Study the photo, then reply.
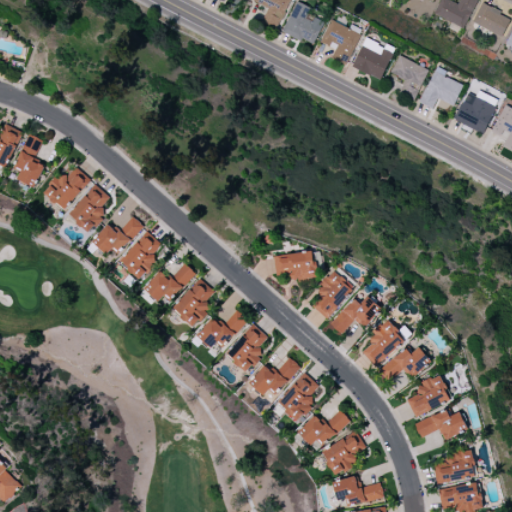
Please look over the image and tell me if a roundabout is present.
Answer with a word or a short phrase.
No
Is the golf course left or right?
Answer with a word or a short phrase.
left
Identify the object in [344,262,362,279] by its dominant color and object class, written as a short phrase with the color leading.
blue swimming pool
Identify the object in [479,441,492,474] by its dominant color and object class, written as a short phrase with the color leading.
blue swimming pool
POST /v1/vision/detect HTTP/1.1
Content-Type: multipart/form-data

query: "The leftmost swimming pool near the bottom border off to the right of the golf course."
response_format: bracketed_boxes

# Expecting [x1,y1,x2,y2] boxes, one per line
[320,485,332,510]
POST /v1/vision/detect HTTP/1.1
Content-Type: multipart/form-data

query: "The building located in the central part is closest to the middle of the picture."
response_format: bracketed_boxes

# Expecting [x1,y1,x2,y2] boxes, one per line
[275,252,318,280]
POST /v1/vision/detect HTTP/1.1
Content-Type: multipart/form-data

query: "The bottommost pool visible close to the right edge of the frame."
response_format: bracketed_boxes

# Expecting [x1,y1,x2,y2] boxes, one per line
[487,480,500,504]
